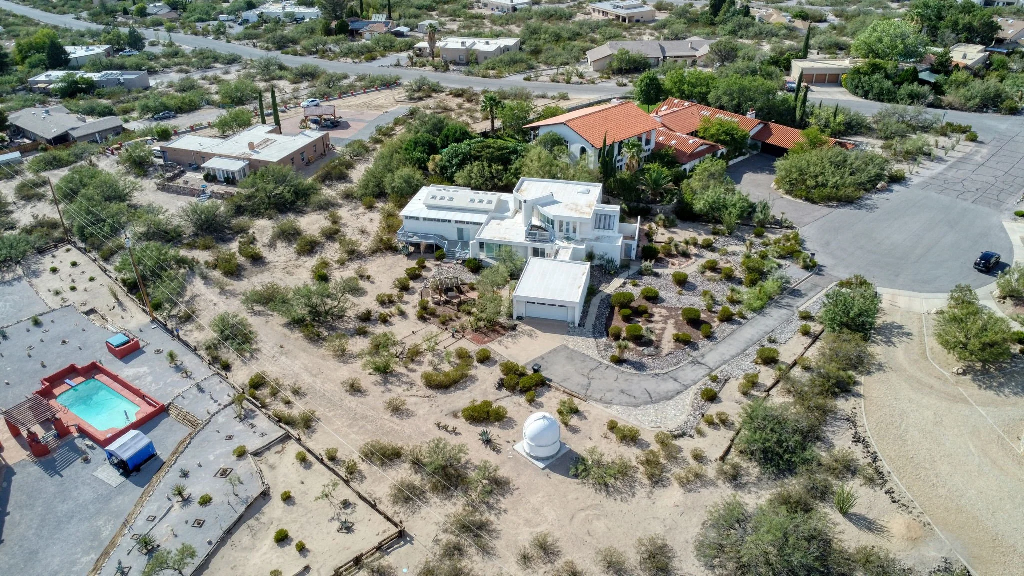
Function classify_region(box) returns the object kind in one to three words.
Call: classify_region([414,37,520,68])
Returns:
house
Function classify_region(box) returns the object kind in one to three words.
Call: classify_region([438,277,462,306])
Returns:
gazebo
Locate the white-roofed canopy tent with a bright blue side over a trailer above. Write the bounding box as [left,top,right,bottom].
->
[104,430,158,479]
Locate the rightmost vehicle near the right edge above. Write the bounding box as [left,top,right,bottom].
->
[975,250,1003,271]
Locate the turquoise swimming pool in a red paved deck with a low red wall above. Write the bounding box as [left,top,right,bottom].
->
[30,358,169,451]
